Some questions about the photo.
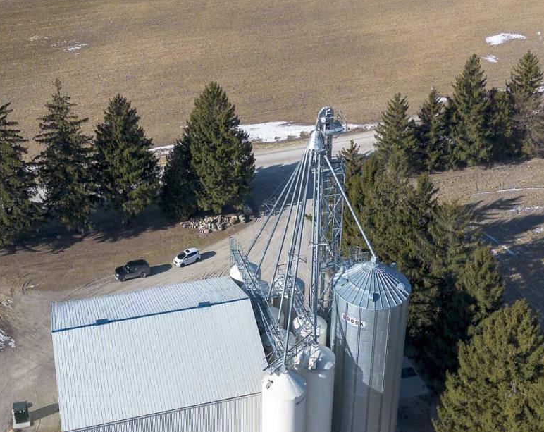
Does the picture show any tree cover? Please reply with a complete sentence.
Yes, the picture does contain tree cover.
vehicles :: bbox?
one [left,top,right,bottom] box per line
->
[113,258,150,278]
[173,247,203,266]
